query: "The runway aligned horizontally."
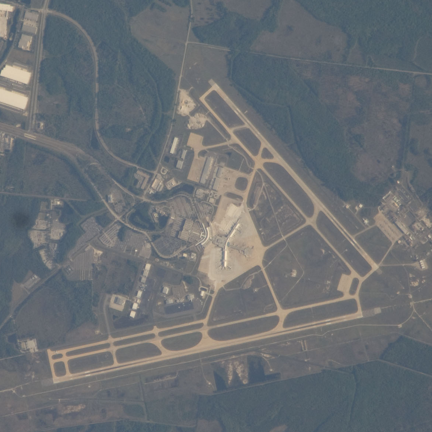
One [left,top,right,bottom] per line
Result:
[52,312,362,383]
